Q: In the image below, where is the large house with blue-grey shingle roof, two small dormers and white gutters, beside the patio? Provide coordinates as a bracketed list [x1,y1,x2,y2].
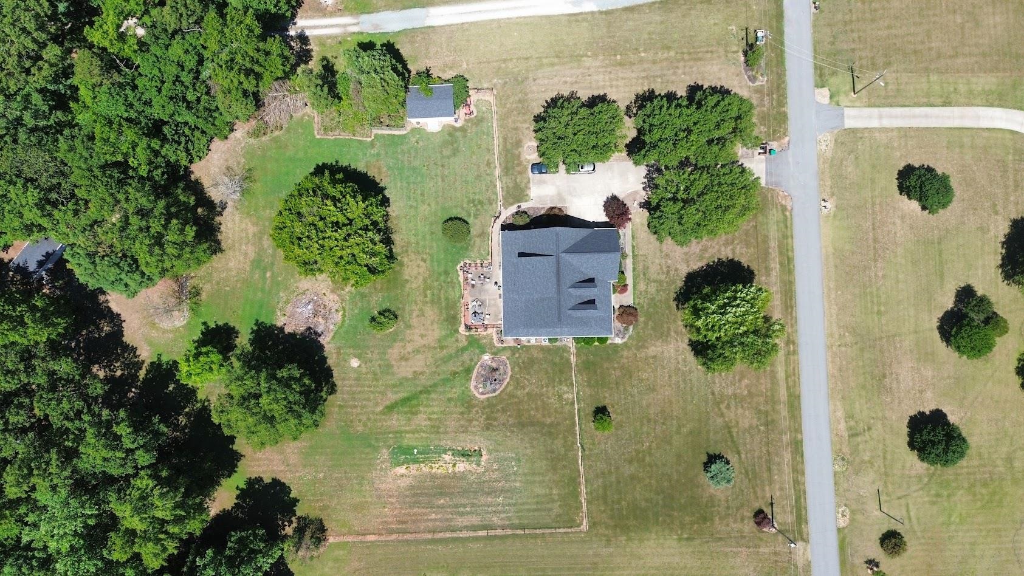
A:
[500,227,620,339]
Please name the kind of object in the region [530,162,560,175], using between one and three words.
vehicle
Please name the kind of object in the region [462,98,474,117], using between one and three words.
vehicle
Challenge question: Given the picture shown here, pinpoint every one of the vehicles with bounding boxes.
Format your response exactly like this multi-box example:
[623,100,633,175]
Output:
[568,163,596,175]
[530,162,560,175]
[462,98,474,117]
